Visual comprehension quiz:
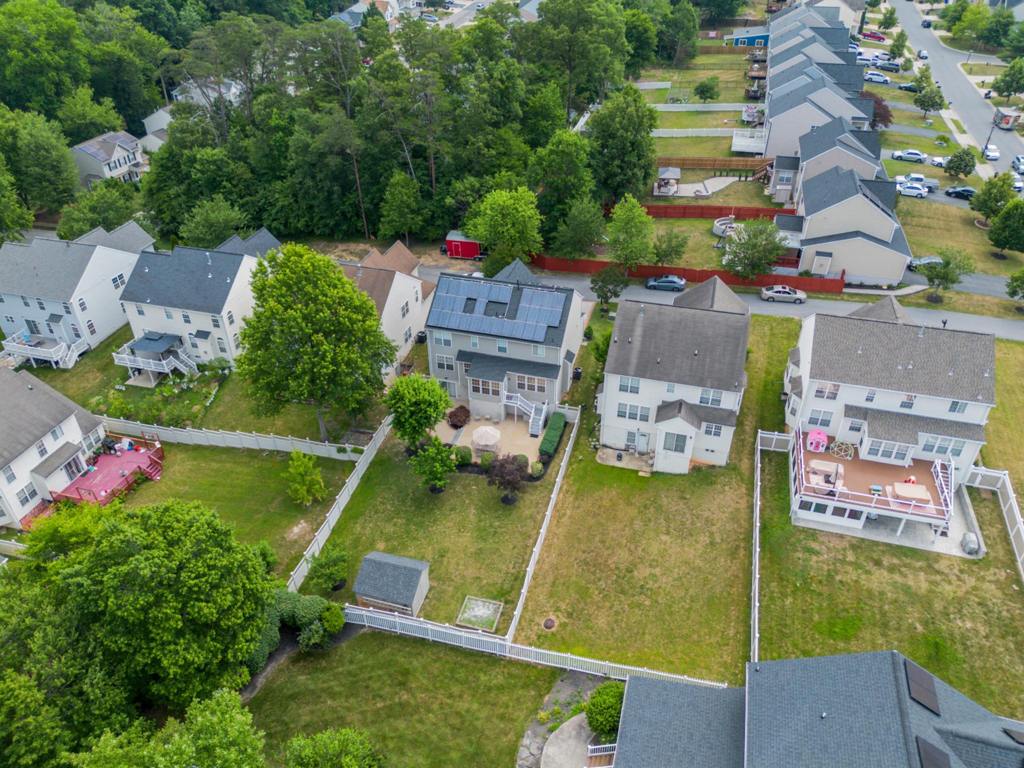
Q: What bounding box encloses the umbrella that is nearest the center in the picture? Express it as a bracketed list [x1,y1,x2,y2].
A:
[469,420,503,444]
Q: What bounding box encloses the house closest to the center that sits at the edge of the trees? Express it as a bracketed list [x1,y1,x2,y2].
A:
[425,258,581,424]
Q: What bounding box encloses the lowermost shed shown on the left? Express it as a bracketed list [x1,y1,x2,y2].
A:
[353,549,429,616]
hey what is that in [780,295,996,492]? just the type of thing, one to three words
house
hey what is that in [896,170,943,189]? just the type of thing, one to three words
vehicle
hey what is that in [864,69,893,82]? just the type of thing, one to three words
vehicle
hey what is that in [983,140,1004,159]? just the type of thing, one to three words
car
